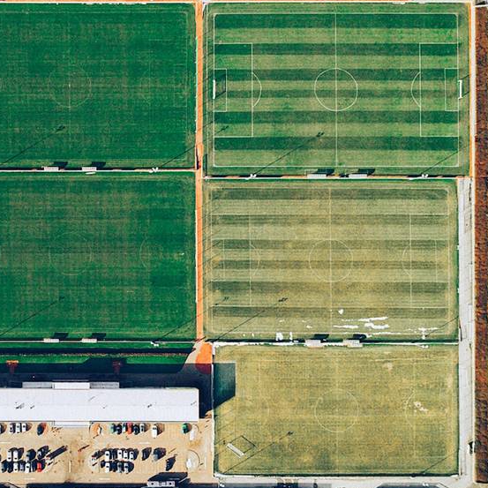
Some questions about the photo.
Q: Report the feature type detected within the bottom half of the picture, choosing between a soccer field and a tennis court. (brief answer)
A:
soccer field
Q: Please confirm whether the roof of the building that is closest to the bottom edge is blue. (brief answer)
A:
No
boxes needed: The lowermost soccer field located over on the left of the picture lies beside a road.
[0,171,197,340]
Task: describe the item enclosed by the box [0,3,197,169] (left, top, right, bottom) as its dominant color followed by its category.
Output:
green soccer field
